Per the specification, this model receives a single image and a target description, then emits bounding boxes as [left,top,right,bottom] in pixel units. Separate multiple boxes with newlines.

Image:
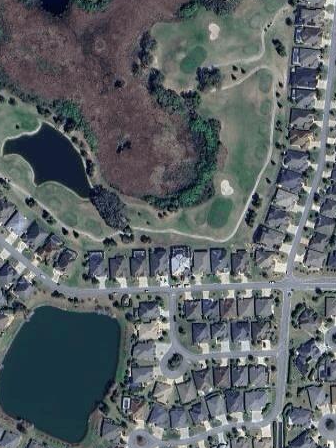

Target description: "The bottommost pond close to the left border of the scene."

[4,123,92,199]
